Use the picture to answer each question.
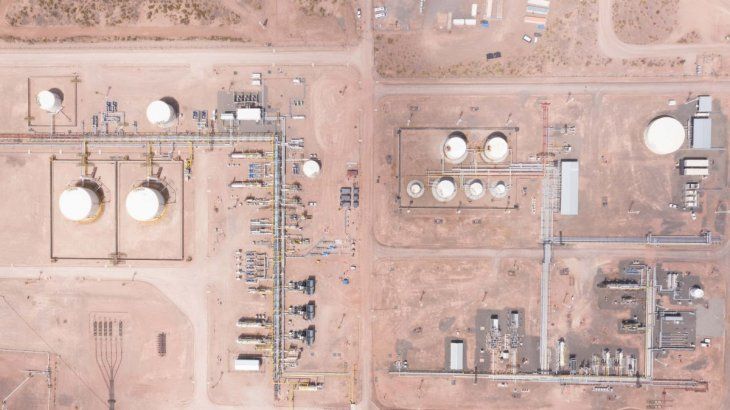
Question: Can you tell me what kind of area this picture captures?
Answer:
industrial area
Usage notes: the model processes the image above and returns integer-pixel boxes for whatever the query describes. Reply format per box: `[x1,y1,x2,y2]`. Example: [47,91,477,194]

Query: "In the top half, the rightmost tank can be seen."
[642,116,687,156]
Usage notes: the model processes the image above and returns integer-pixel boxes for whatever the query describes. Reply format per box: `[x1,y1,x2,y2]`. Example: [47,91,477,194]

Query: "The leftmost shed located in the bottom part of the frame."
[235,357,260,371]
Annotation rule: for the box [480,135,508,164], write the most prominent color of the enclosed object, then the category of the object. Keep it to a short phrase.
white storage tank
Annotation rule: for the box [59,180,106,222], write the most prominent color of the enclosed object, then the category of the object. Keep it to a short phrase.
white storage tank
